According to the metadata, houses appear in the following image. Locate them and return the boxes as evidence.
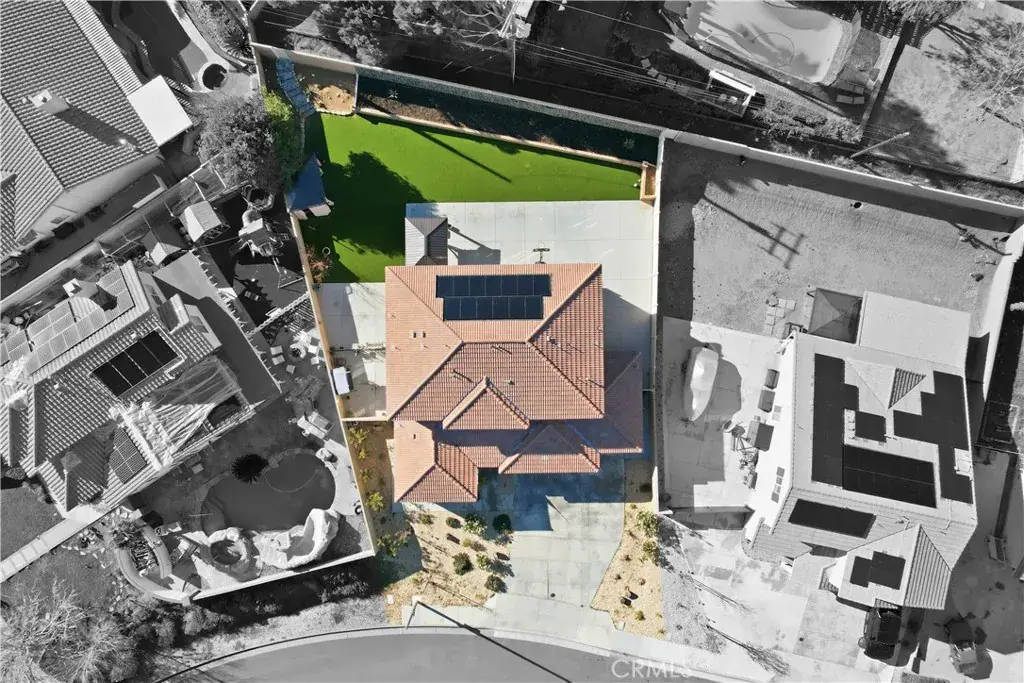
[0,0,172,244]
[0,260,265,518]
[385,262,643,505]
[743,332,978,610]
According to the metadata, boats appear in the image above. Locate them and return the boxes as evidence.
[685,347,725,426]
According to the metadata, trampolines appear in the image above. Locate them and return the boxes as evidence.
[239,178,277,212]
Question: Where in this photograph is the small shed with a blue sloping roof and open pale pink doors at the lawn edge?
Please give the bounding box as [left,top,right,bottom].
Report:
[288,157,343,219]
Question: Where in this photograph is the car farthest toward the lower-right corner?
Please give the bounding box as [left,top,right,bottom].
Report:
[938,610,985,674]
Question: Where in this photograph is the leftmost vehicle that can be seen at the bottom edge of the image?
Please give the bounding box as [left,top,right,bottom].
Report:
[862,605,907,660]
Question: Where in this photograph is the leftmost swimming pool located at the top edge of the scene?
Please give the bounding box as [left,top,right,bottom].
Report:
[117,0,194,82]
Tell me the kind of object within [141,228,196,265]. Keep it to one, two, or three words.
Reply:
shed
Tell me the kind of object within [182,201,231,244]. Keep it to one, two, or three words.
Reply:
shed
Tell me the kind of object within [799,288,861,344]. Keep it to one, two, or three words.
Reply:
gazebo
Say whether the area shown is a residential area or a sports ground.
residential area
